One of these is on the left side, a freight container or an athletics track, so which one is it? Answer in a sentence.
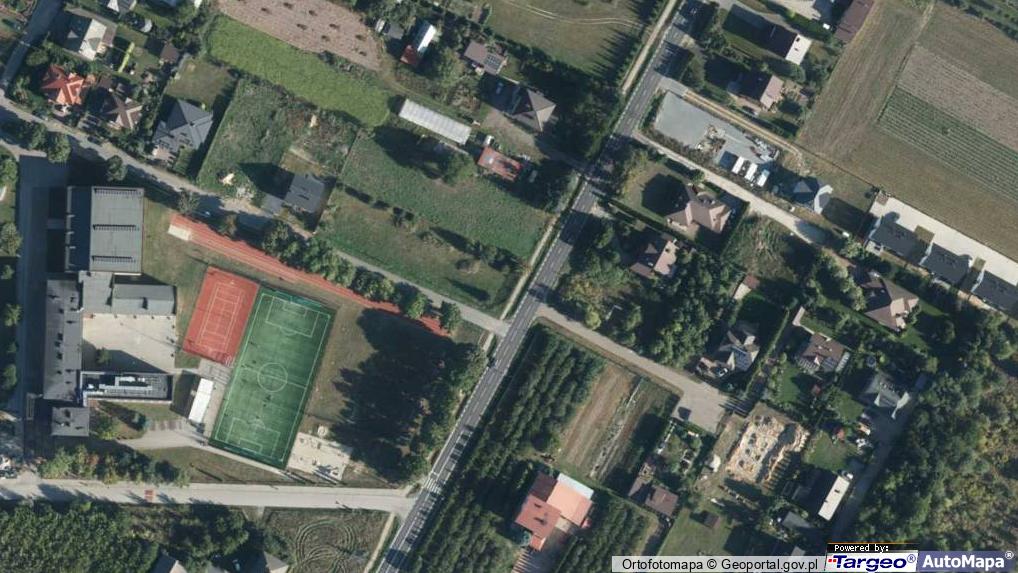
You can see an athletics track on the left side.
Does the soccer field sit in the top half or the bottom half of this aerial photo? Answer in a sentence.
The soccer field sits in the bottom half of the picture.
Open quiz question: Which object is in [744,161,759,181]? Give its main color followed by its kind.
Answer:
white vehicle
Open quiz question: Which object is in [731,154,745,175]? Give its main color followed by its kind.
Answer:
white vehicle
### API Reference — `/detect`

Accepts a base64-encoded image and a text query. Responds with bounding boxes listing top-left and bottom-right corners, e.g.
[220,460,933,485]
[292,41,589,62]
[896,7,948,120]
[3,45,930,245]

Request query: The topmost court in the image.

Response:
[183,267,259,366]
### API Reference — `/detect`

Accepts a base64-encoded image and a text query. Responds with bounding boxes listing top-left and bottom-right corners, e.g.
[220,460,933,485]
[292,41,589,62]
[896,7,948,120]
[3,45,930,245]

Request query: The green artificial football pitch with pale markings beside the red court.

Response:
[209,286,337,468]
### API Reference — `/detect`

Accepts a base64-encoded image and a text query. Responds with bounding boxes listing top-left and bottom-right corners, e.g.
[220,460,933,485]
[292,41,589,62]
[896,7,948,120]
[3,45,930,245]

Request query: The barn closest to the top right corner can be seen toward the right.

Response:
[832,0,876,44]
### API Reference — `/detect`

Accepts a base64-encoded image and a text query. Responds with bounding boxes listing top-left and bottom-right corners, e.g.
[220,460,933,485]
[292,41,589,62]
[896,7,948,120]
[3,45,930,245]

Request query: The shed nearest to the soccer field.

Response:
[188,378,214,423]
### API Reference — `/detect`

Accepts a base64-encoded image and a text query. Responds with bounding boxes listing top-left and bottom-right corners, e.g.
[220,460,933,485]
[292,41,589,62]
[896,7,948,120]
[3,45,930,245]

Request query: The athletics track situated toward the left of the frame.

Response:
[167,214,449,335]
